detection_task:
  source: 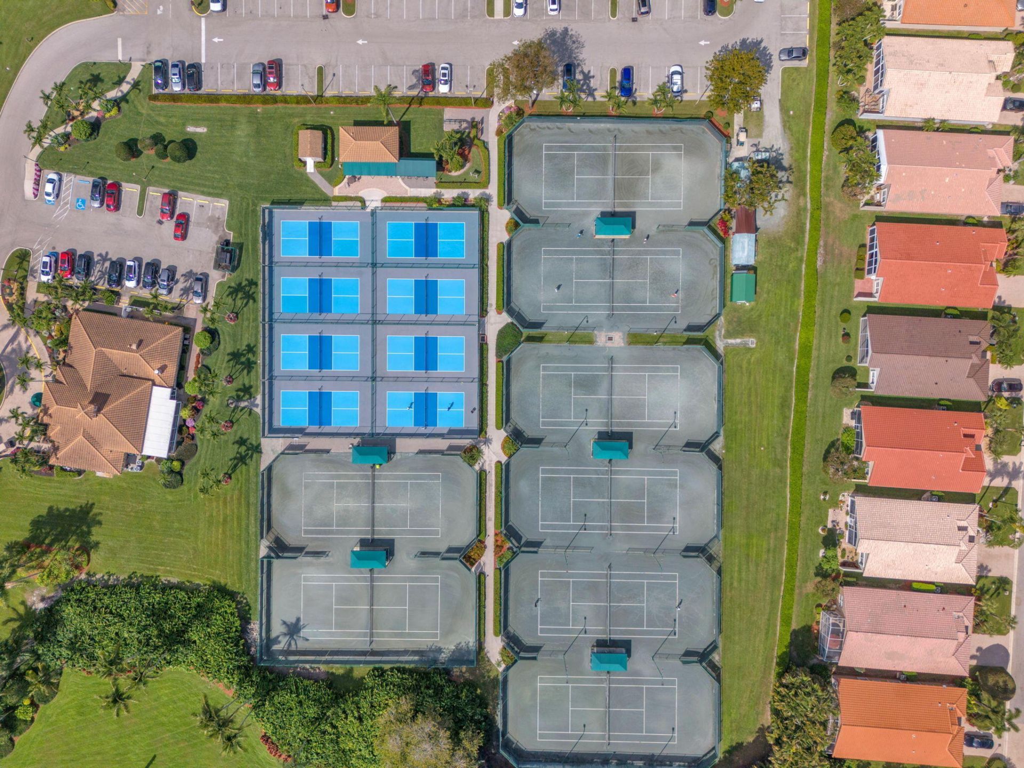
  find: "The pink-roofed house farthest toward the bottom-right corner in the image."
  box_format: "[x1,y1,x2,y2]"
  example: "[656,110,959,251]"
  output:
[803,584,976,676]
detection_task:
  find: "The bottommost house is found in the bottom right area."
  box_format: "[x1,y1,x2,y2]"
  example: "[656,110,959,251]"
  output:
[822,674,968,768]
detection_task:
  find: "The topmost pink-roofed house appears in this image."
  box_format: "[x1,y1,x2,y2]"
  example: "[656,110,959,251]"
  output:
[849,130,1015,217]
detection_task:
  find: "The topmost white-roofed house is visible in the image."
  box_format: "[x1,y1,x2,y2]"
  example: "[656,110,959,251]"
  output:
[848,36,1016,124]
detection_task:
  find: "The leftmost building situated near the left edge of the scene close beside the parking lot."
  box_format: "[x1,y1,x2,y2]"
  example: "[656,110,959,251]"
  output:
[32,310,188,477]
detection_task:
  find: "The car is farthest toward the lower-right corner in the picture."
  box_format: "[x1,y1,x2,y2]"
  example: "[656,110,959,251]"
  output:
[963,733,994,748]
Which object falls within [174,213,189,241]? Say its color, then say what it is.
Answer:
red car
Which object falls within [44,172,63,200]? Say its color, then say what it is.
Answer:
white car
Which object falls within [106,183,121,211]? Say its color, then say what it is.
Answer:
red car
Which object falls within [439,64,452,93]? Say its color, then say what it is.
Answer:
white vehicle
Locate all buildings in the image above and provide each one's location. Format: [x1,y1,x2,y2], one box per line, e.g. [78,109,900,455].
[841,222,1006,307]
[32,310,188,477]
[822,674,968,768]
[839,406,985,492]
[339,126,437,180]
[846,314,989,400]
[817,497,980,584]
[848,36,1016,124]
[727,273,756,304]
[803,584,976,676]
[868,0,1011,31]
[299,128,326,176]
[849,130,1015,217]
[729,234,756,266]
